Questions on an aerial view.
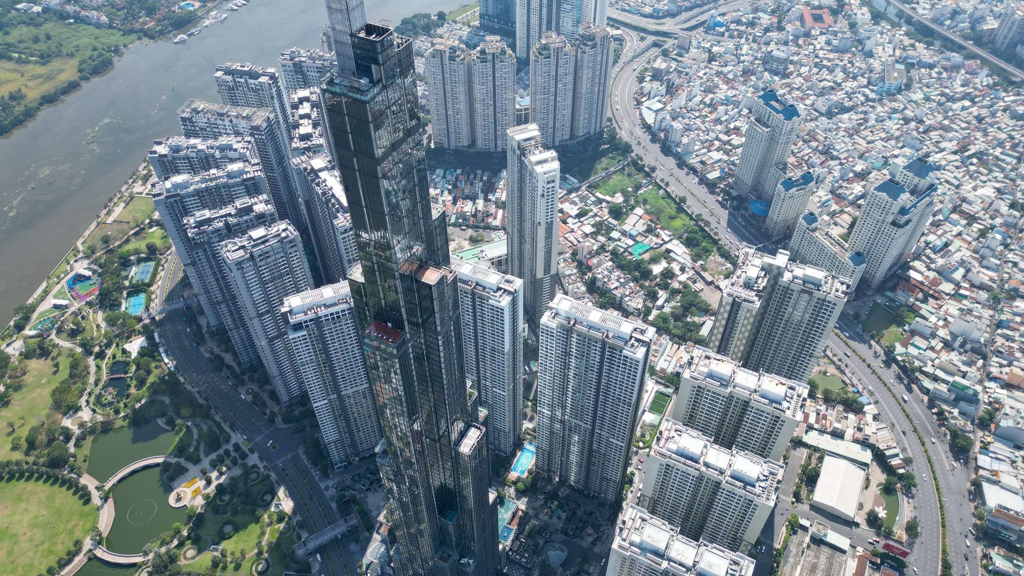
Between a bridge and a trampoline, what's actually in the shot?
bridge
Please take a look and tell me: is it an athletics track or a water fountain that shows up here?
water fountain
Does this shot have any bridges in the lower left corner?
Yes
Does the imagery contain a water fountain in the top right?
No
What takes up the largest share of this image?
buildings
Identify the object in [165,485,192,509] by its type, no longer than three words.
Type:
fountain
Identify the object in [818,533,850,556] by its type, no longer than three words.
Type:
building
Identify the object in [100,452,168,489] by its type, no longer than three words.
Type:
bridge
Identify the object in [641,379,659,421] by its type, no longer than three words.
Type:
building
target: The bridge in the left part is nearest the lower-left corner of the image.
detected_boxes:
[85,542,157,566]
